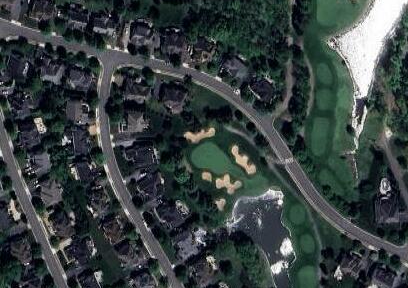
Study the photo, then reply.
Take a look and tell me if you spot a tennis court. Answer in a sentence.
No, the frame has no tennis court in it.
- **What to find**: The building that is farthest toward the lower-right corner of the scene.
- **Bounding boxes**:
[365,262,398,288]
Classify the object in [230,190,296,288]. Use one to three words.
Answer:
pond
